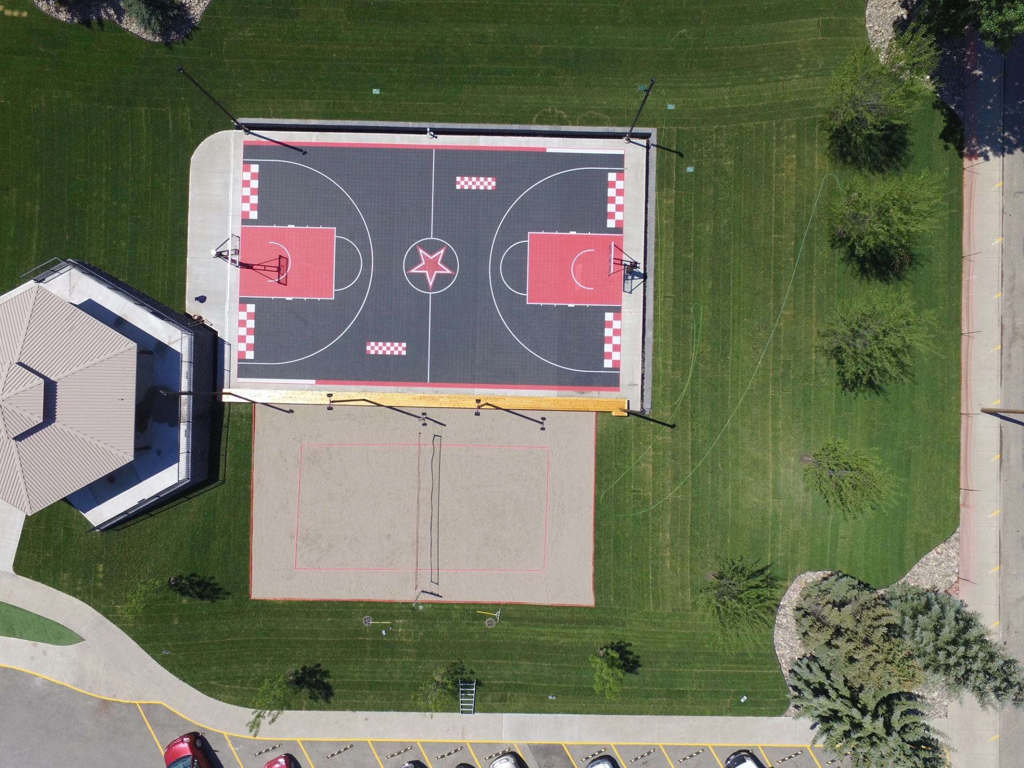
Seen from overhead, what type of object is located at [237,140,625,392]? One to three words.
basketball court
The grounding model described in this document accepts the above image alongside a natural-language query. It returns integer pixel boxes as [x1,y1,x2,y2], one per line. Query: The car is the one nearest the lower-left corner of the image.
[164,733,206,768]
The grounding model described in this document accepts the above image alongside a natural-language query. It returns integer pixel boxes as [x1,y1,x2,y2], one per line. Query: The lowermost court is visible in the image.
[250,403,597,607]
